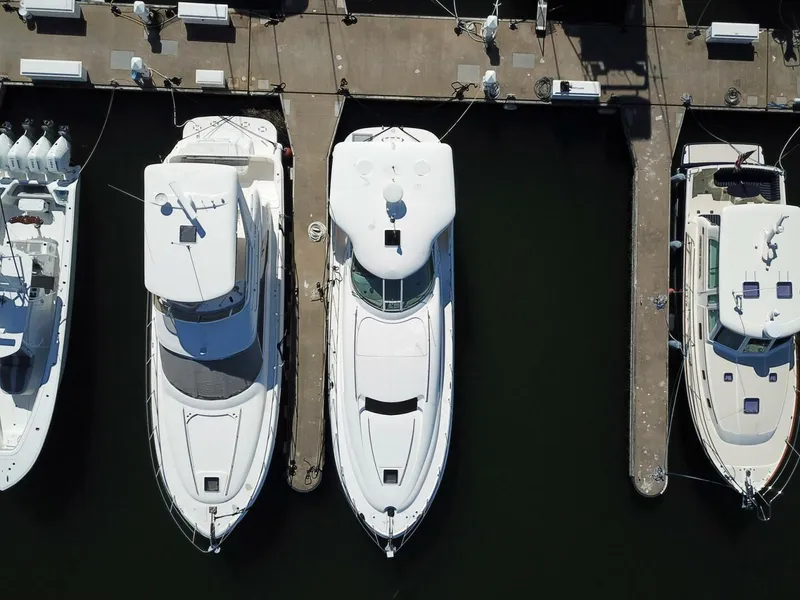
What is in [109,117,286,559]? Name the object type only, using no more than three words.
boat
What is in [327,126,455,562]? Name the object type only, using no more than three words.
boat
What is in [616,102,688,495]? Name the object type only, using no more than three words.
pier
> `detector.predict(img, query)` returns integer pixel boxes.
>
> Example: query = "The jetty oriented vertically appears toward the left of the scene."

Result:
[279,91,348,492]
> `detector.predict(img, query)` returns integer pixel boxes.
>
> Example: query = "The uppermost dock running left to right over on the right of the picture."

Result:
[617,0,690,27]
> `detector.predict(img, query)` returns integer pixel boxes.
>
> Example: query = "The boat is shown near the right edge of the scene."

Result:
[676,143,800,530]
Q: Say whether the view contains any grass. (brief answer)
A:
No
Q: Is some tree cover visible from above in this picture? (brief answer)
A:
No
